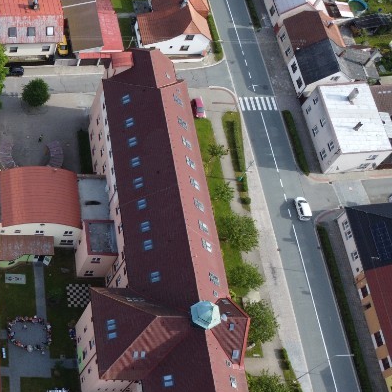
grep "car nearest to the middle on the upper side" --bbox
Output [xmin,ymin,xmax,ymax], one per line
[192,96,207,119]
